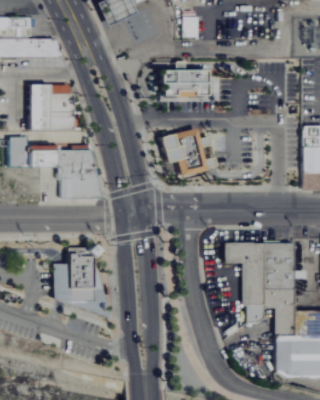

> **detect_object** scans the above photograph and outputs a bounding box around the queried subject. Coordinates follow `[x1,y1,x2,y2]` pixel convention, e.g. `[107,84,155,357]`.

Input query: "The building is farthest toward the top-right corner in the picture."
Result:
[178,10,199,39]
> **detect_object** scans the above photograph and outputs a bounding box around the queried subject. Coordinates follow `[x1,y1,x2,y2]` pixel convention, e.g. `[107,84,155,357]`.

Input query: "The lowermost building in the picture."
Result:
[272,335,320,376]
